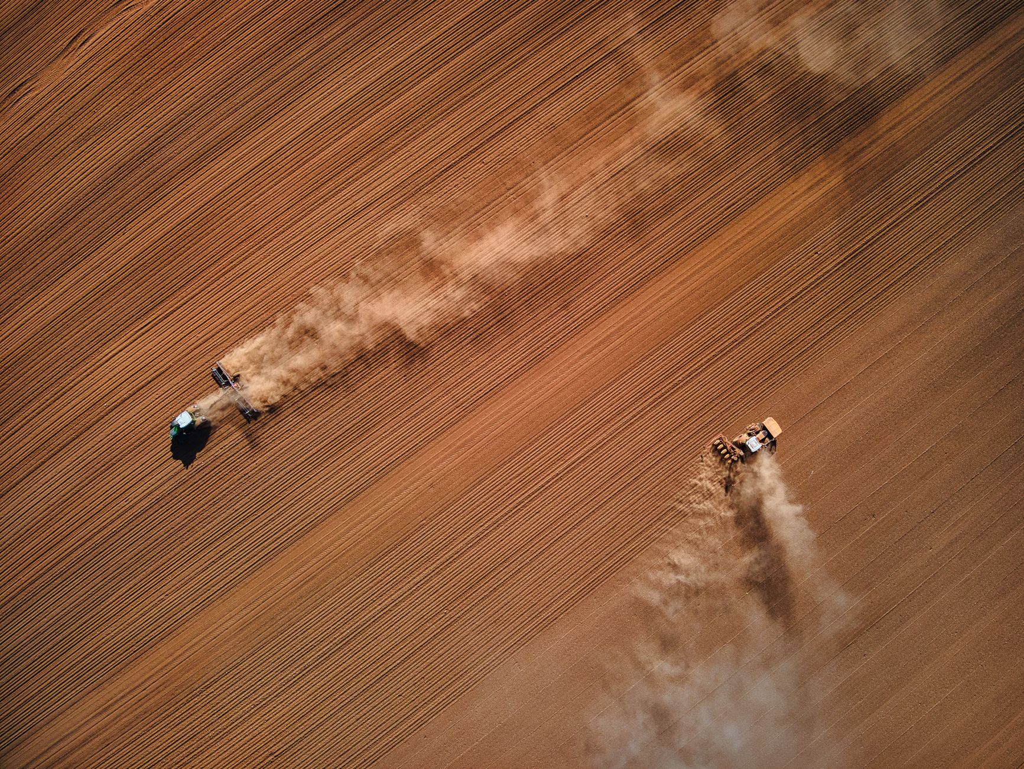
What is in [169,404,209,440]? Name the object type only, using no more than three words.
work vehicle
